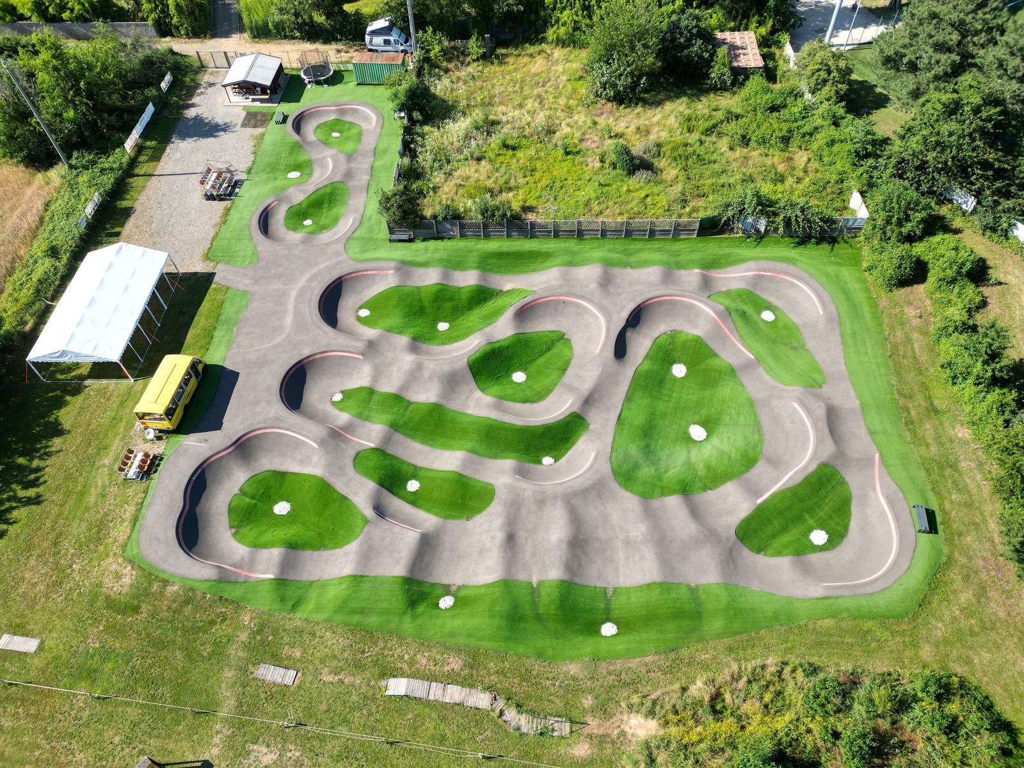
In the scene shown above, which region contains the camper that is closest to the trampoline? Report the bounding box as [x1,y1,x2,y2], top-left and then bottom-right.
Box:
[365,11,417,51]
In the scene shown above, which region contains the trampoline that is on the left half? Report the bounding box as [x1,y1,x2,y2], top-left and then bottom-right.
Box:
[297,49,335,85]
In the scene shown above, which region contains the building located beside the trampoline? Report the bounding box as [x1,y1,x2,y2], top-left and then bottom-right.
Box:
[219,52,290,107]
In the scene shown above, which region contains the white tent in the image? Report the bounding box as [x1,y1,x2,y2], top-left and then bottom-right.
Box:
[27,242,180,383]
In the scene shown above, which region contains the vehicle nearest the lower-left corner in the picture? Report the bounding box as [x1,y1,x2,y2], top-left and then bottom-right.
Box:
[136,355,210,435]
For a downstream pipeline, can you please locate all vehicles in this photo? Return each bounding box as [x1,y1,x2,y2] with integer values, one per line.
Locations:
[365,11,417,51]
[136,355,210,435]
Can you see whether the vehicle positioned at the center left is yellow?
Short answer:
Yes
